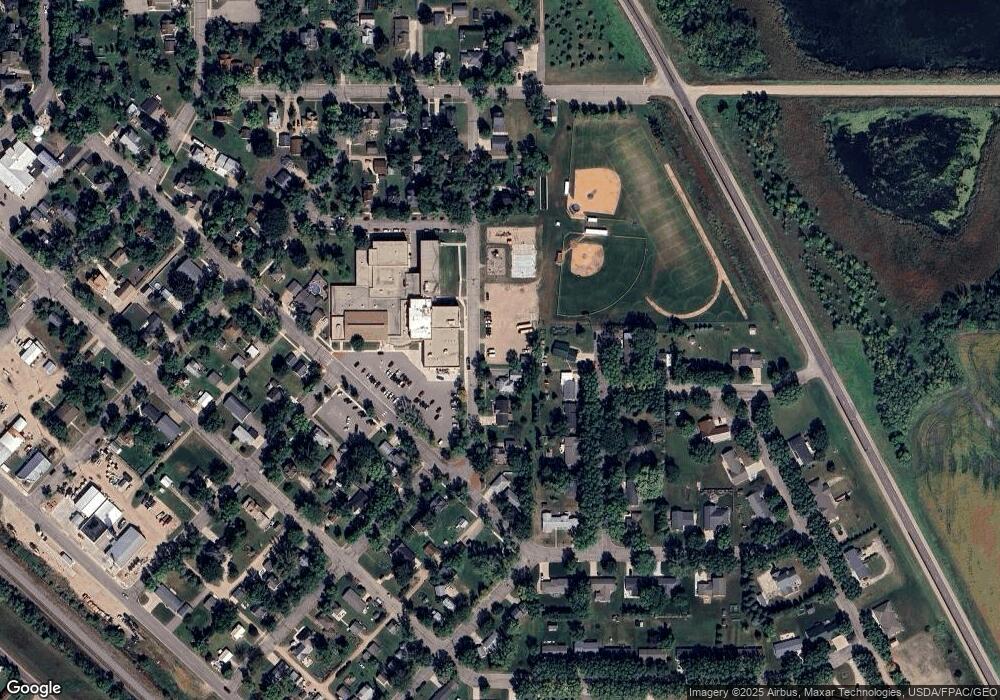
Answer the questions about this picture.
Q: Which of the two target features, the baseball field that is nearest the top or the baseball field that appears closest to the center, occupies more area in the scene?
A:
the baseball field that is nearest the top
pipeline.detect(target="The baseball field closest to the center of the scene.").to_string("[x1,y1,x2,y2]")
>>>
[570,240,604,276]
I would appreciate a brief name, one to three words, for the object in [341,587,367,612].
house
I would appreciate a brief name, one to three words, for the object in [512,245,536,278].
sports court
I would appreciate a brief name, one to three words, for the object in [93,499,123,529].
shed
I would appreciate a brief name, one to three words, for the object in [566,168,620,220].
baseball field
